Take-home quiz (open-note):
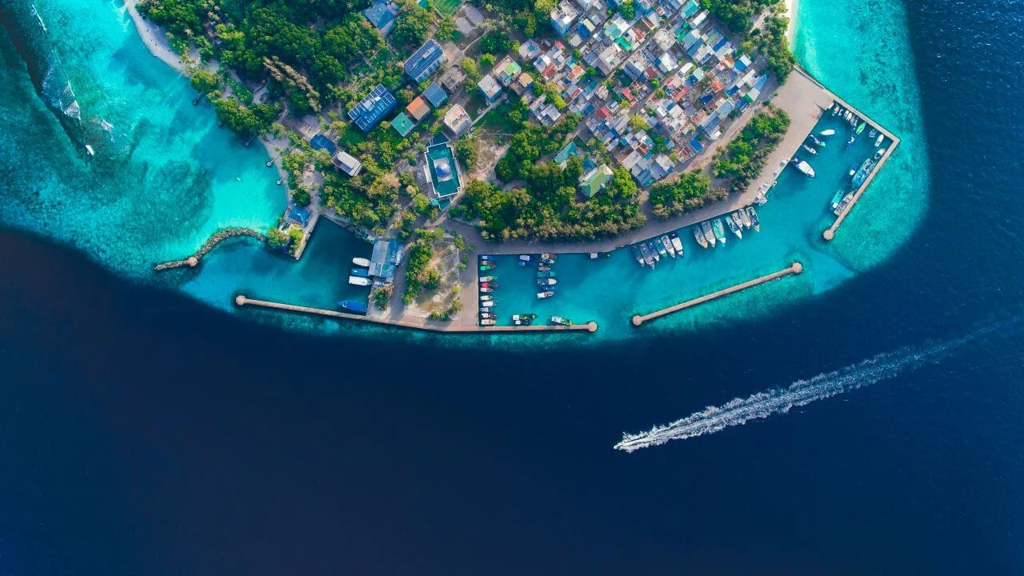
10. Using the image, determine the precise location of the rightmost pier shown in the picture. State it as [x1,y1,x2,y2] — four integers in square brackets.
[822,101,900,240]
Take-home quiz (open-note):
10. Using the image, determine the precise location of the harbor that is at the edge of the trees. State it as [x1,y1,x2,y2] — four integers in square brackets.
[366,69,831,331]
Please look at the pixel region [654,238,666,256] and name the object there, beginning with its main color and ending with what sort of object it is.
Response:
blue boat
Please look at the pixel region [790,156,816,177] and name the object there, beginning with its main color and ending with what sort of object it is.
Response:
white boat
